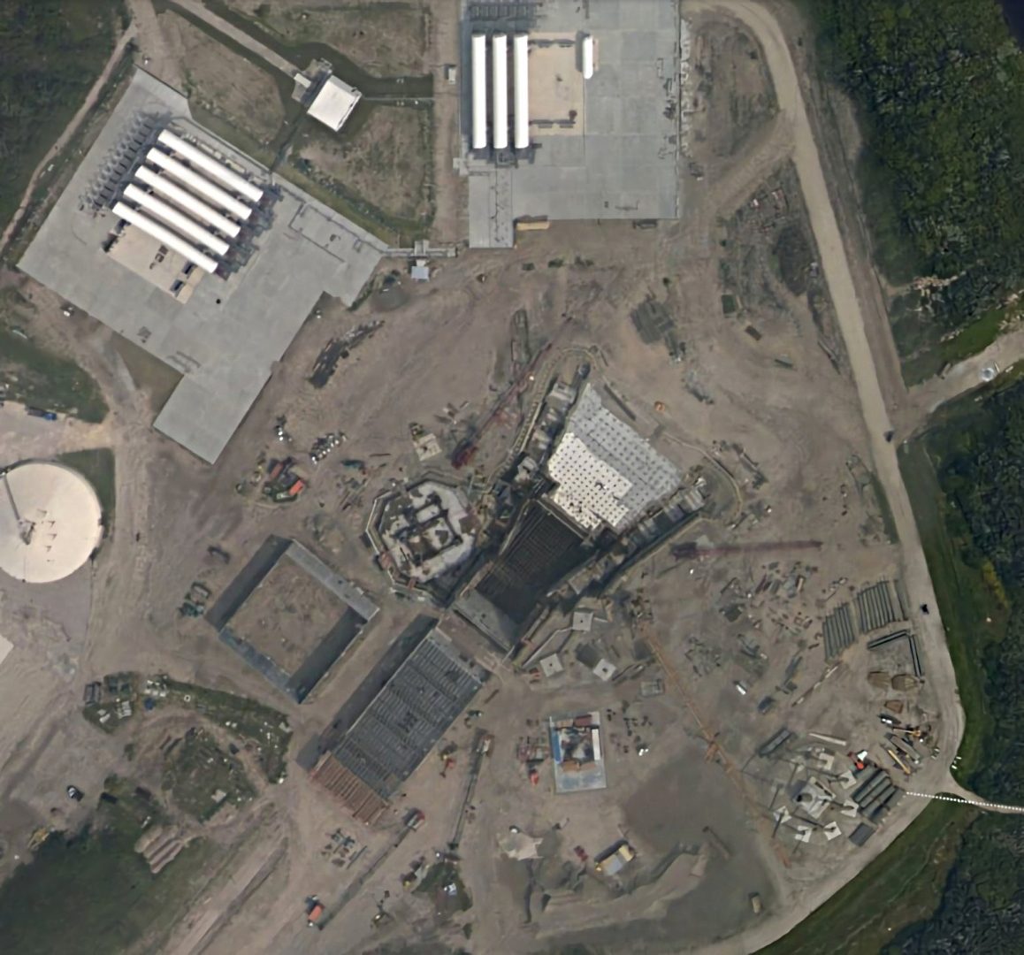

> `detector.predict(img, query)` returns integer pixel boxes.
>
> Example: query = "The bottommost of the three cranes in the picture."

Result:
[640,619,724,763]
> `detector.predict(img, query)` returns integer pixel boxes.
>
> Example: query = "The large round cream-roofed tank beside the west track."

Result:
[0,458,106,590]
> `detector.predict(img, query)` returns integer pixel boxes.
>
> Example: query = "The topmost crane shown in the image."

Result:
[449,315,572,469]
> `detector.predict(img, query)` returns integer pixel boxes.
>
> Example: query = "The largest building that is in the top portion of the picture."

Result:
[309,75,362,132]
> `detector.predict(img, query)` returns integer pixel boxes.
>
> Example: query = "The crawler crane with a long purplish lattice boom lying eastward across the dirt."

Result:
[670,538,823,559]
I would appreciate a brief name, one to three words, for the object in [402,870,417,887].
work vehicle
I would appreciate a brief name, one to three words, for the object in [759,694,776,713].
vehicle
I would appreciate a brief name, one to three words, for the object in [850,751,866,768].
vehicle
